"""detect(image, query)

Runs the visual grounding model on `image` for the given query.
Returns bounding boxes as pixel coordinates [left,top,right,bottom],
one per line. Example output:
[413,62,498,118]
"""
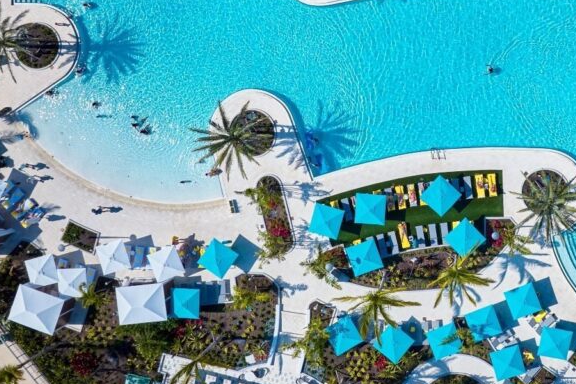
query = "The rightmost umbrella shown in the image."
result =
[537,326,573,361]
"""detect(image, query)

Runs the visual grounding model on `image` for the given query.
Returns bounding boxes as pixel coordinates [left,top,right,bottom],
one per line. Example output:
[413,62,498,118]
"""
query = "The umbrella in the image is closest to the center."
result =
[308,203,344,239]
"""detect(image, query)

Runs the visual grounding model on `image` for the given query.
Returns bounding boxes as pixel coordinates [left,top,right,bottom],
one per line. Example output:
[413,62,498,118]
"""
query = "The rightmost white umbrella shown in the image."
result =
[147,246,185,282]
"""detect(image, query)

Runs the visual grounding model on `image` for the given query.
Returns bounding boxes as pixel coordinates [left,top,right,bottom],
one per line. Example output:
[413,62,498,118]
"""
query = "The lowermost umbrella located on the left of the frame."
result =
[172,289,201,317]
